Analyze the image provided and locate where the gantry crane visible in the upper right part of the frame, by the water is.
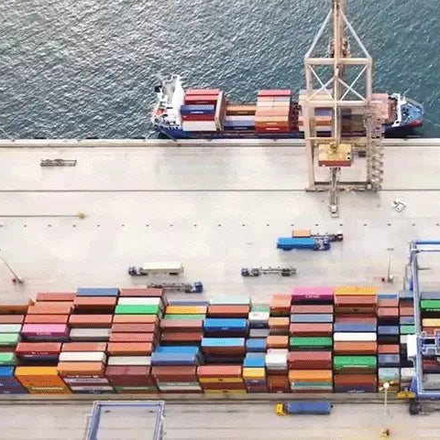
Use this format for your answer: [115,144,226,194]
[292,0,387,218]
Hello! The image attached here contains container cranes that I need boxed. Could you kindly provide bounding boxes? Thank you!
[404,241,440,400]
[77,393,165,440]
[292,0,387,218]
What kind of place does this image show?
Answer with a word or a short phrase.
port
